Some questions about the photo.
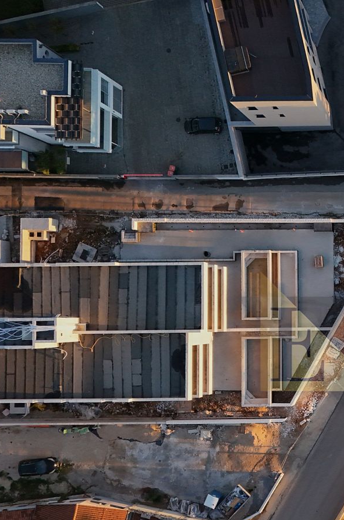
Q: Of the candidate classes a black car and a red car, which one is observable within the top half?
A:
black car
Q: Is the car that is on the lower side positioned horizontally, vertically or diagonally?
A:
horizontally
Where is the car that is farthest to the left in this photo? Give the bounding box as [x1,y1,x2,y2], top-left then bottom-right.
[13,457,56,477]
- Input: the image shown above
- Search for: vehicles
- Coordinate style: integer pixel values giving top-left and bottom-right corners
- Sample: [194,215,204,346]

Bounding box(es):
[182,113,222,133]
[13,457,56,477]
